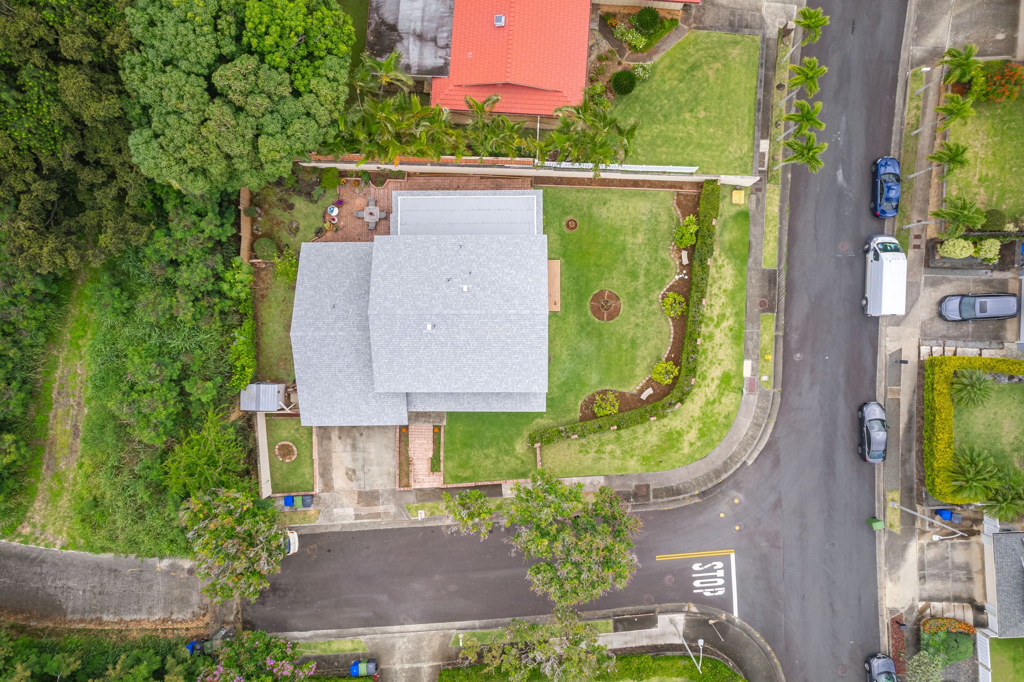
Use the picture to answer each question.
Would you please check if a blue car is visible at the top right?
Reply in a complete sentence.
Yes, the scene does show a blue car at the top right.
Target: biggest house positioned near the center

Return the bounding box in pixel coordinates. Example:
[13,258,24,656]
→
[290,190,549,426]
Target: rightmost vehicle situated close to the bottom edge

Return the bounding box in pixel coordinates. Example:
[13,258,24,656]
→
[865,652,902,682]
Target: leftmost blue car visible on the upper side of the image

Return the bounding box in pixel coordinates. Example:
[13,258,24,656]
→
[870,154,907,216]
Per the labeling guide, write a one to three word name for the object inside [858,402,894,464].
car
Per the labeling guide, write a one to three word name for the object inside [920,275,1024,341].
car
